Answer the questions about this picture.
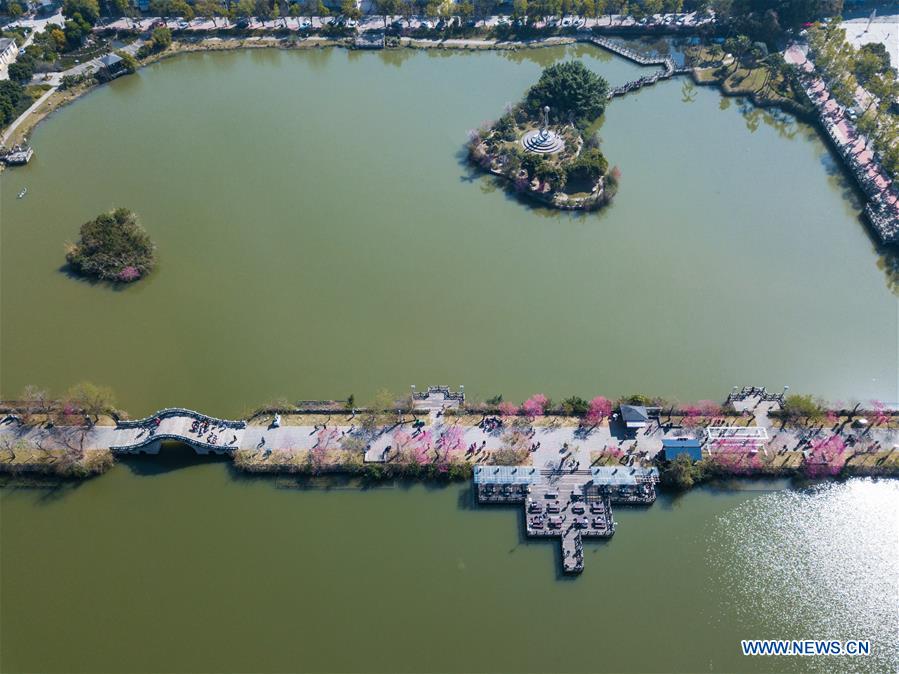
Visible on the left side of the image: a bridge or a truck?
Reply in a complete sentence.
The one visible on the left side of the image is a bridge.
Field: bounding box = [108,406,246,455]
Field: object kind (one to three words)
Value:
bridge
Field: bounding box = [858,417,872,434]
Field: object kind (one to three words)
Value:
umbrella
